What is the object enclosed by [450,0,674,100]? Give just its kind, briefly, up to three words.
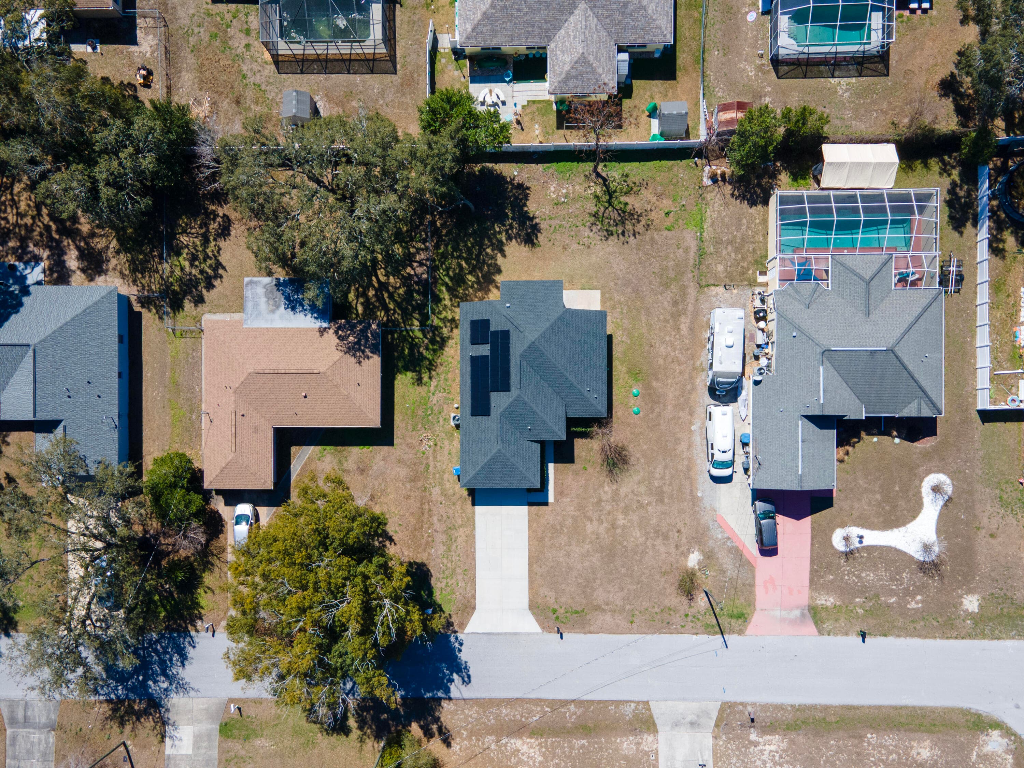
house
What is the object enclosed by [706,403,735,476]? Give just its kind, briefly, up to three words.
van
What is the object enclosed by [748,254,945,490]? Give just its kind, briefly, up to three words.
house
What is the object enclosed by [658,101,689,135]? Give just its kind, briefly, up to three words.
shed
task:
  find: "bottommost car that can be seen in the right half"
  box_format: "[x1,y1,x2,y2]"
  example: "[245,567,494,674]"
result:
[751,496,778,548]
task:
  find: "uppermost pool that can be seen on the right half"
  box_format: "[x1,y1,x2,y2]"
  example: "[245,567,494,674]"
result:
[783,0,871,47]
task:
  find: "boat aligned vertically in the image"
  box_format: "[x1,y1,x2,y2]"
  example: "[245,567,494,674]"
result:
[737,376,749,421]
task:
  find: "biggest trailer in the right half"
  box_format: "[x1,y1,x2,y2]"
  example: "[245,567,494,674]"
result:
[706,308,744,401]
